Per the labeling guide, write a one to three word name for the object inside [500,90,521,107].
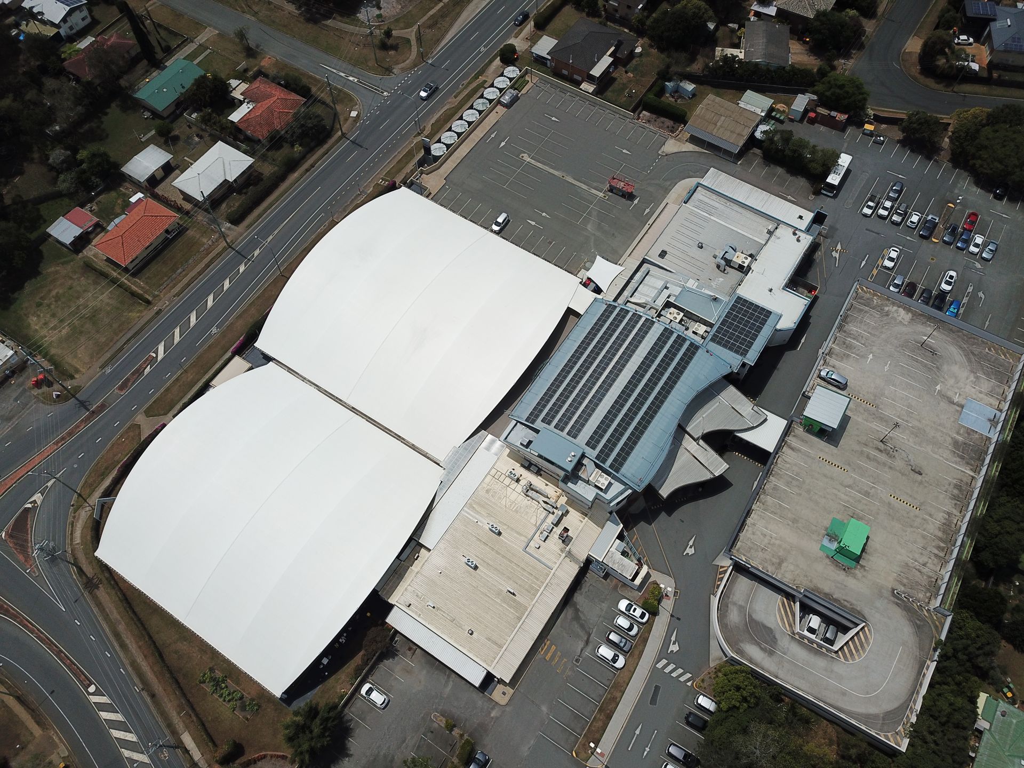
vehicle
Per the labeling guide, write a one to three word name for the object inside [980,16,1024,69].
house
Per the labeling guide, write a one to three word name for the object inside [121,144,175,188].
shed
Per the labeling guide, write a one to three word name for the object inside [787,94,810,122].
building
